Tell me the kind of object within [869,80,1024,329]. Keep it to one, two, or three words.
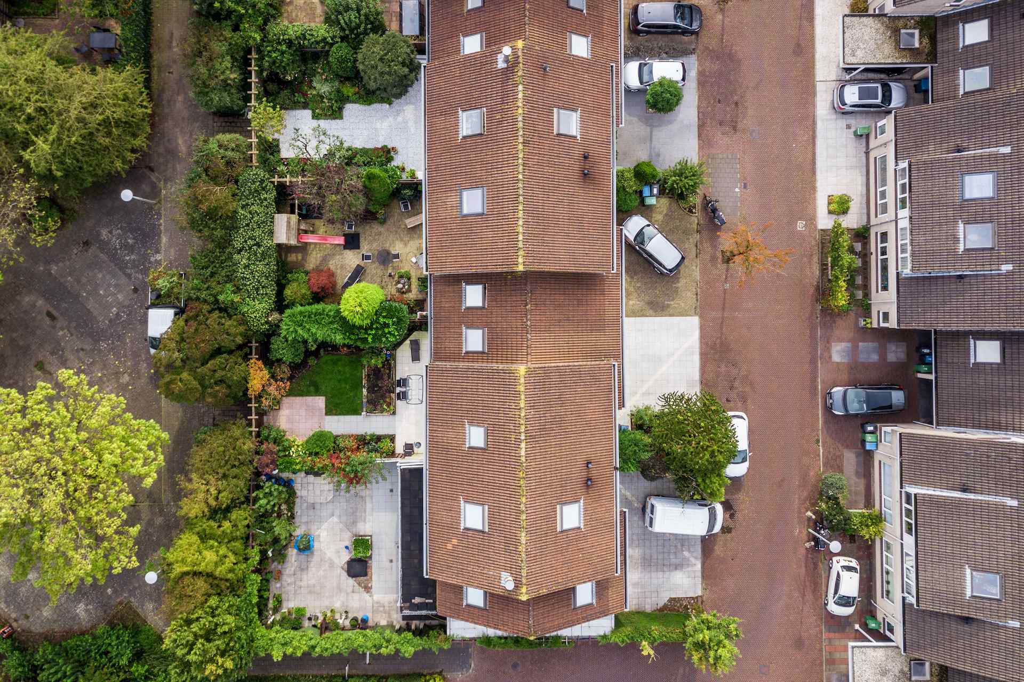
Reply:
house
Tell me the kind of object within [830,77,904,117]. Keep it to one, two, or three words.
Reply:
car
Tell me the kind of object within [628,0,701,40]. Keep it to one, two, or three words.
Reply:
car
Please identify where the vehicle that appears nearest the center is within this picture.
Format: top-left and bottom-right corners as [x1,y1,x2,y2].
[622,214,688,280]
